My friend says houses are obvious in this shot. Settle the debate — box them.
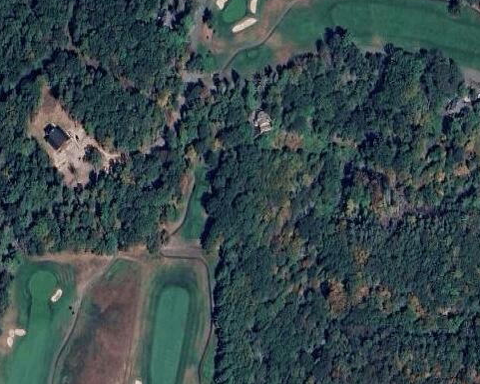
[37,121,72,148]
[160,11,177,27]
[252,111,272,132]
[449,93,469,113]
